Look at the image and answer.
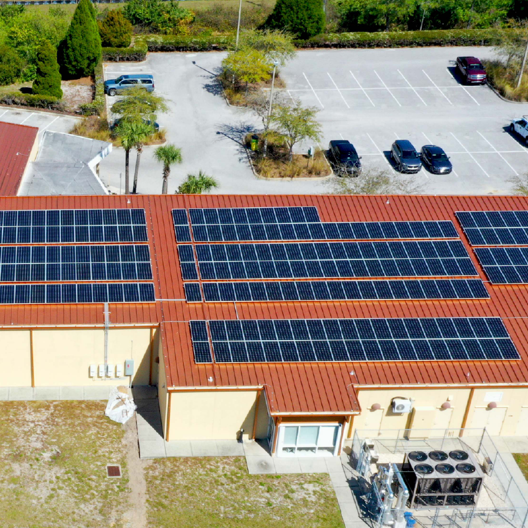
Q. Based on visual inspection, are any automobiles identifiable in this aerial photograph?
Yes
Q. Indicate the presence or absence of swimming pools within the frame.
No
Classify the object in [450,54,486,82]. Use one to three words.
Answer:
truck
